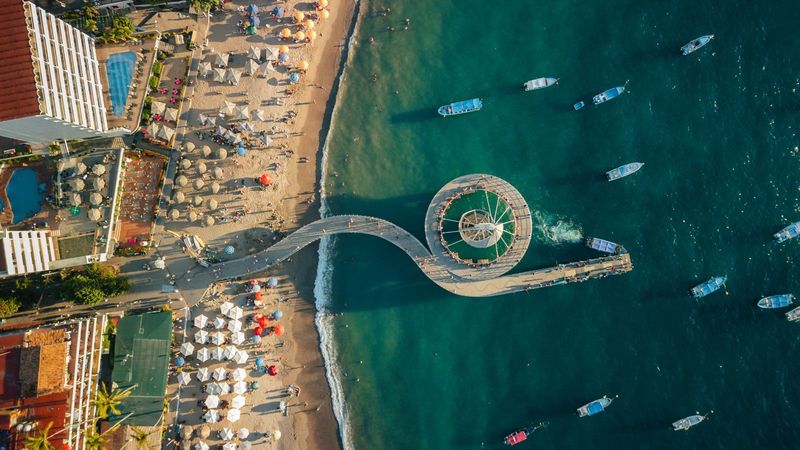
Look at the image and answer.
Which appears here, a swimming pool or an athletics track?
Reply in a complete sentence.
This aerial view contains a swimming pool.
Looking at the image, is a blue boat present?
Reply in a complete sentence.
Yes, a blue boat can be made out from above.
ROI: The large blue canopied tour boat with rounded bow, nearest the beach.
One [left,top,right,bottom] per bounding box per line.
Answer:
[438,97,485,115]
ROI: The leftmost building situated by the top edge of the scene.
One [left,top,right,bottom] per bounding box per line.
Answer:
[0,2,98,144]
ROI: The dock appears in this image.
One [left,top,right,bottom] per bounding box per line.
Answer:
[196,173,634,297]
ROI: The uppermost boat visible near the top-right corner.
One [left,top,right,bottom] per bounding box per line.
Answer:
[679,36,714,55]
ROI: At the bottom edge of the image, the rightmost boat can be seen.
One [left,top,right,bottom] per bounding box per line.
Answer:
[670,415,705,430]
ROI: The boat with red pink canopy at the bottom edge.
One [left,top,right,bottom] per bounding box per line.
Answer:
[502,429,534,447]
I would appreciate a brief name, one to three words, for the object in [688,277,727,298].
boat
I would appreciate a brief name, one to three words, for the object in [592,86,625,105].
boat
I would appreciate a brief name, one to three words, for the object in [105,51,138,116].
swimming pool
